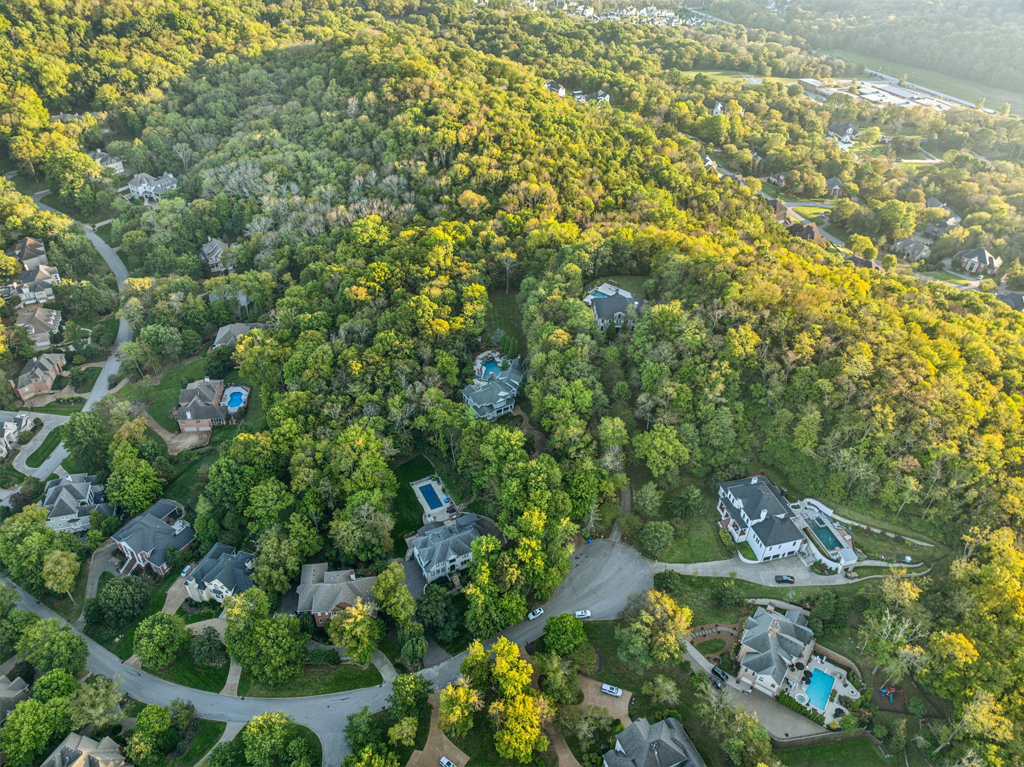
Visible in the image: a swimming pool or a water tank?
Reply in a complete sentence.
The image shows a swimming pool.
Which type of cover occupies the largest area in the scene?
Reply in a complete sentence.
The scene is dominated by trees.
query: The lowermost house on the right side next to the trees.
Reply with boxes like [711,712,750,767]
[601,715,709,767]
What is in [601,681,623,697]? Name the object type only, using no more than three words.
car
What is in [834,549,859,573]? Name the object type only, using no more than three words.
building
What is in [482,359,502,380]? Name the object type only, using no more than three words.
swimming pool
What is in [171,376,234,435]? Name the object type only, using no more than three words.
house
